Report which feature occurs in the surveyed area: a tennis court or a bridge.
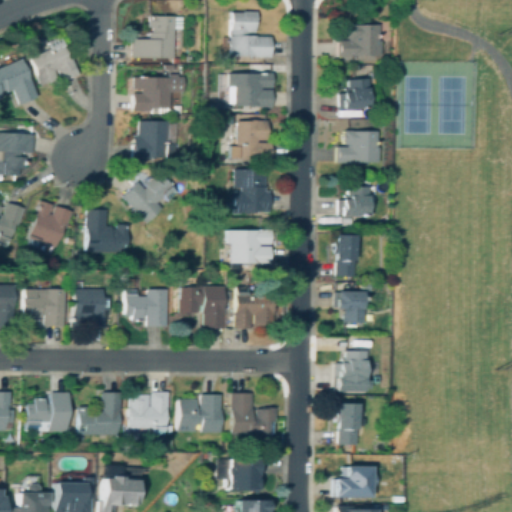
tennis court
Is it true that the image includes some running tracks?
No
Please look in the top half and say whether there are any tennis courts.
Yes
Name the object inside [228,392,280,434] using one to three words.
house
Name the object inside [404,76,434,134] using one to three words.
tennis court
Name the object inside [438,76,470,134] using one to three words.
tennis court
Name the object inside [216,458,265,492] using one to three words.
house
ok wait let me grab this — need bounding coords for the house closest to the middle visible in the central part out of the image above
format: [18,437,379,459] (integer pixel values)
[218,230,276,264]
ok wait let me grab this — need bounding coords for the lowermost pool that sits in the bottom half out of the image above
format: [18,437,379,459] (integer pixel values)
[164,492,178,507]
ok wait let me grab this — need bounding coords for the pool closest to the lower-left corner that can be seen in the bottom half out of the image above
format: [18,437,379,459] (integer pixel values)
[58,456,88,472]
